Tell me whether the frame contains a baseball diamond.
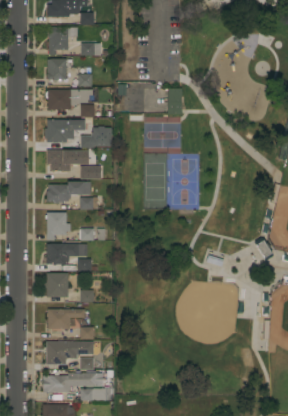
Yes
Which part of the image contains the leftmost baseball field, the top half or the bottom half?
bottom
